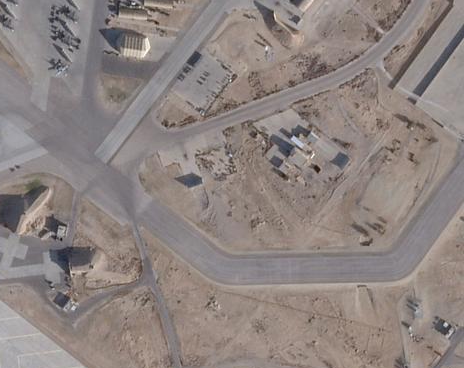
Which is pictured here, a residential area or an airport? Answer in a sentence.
This image shows an airport.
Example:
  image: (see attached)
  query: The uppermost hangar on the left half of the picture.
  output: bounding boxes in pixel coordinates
[116,31,149,57]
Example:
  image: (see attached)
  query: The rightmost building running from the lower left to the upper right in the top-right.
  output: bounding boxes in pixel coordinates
[395,0,464,96]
